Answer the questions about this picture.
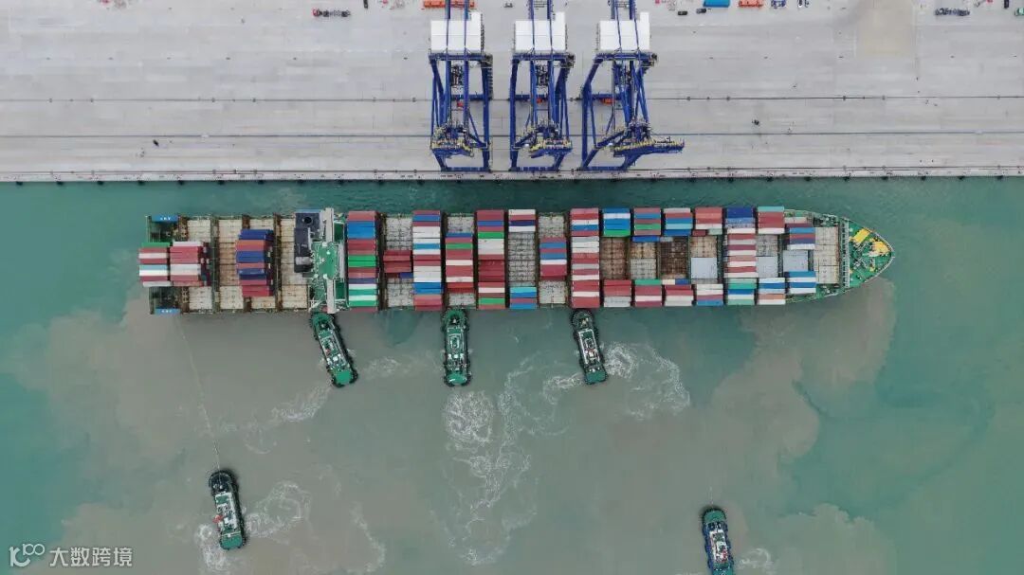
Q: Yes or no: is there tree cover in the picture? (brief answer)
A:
No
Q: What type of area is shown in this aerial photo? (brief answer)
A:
port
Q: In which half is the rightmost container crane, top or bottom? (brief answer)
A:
top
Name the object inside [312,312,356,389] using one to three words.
boat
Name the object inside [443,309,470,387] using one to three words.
boat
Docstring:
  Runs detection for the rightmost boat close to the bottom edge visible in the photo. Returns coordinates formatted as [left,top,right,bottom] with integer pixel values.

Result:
[701,507,736,575]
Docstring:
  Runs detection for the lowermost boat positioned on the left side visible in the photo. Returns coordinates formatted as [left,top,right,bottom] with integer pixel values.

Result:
[209,472,245,550]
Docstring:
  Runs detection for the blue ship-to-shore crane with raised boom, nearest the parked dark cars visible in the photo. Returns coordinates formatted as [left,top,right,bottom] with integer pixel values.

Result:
[573,0,685,171]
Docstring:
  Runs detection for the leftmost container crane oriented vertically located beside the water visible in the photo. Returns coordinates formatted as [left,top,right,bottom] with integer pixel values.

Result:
[426,0,496,171]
